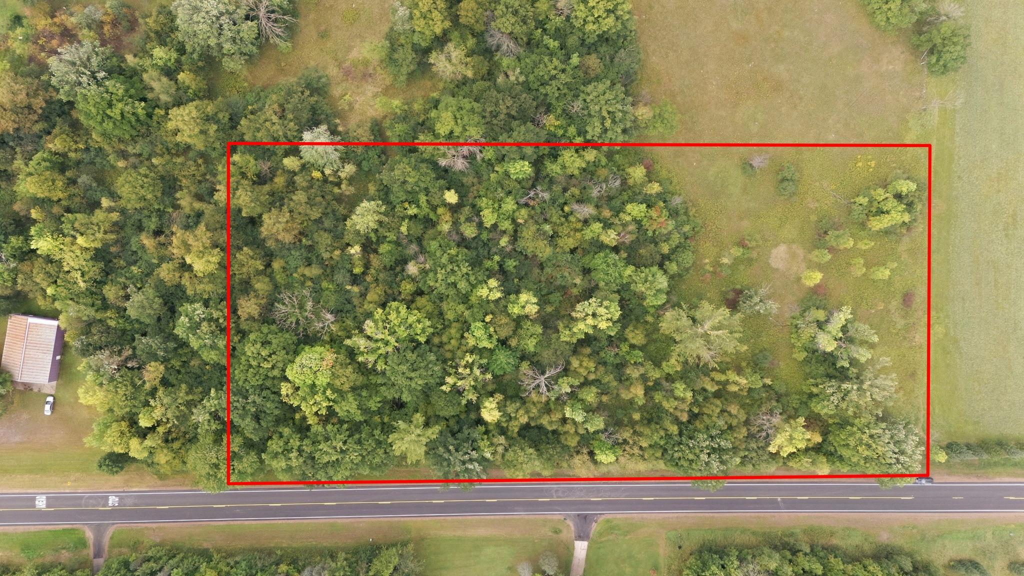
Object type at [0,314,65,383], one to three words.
shed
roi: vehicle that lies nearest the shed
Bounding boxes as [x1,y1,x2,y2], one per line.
[44,395,57,416]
